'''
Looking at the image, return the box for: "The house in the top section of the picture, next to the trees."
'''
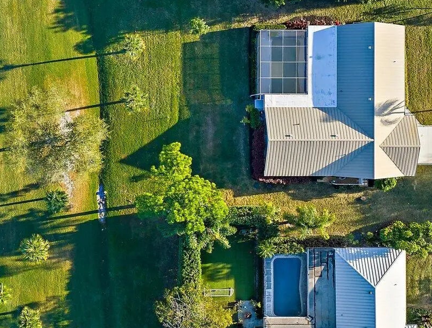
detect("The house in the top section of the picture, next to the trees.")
[262,22,422,180]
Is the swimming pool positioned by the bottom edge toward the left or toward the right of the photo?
right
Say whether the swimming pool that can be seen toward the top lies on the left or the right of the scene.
right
